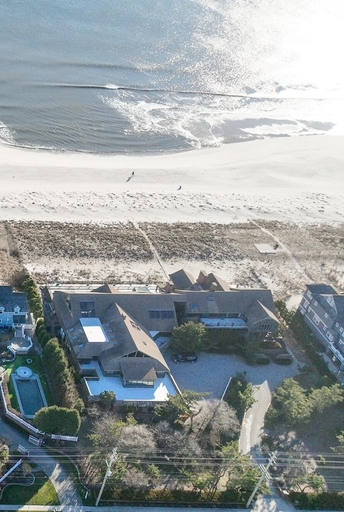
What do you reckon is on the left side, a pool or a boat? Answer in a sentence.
What appears on the left side is a pool.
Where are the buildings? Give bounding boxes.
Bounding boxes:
[292,283,344,378]
[45,261,290,408]
[0,282,41,346]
